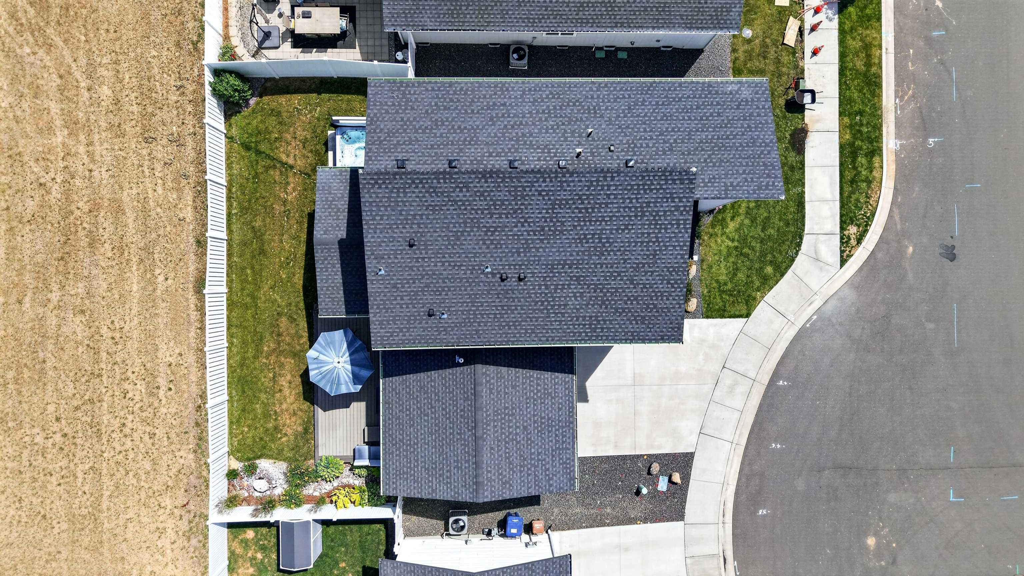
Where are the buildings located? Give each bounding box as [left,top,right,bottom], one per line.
[280,520,322,572]
[377,527,573,576]
[383,0,742,53]
[314,77,784,502]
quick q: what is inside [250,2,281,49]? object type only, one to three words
umbrella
